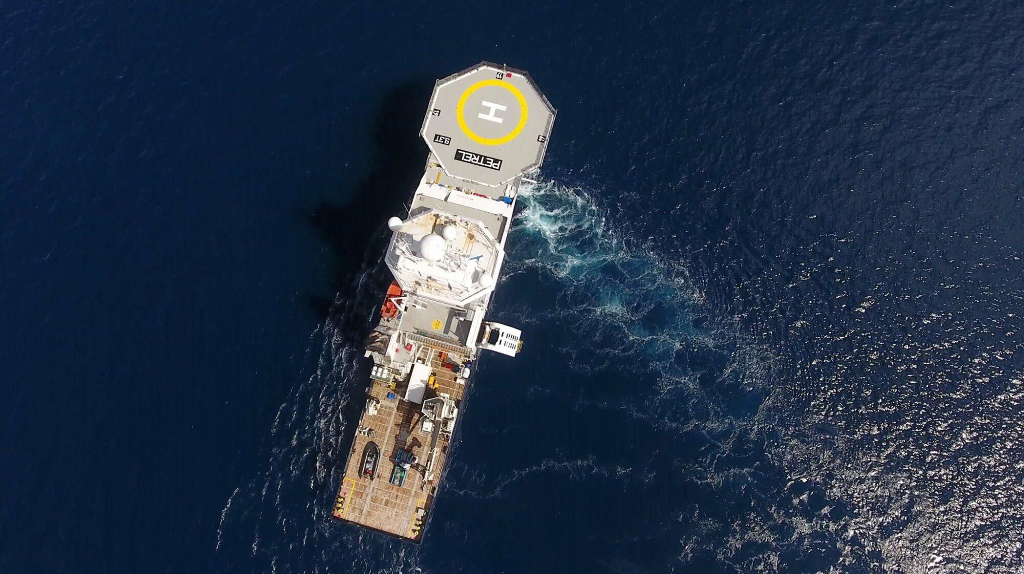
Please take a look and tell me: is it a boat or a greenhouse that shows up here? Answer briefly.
boat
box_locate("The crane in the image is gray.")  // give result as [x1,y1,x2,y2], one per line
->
[418,396,445,472]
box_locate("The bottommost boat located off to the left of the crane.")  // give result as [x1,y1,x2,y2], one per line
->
[357,442,379,483]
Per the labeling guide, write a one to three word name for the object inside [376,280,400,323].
boat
